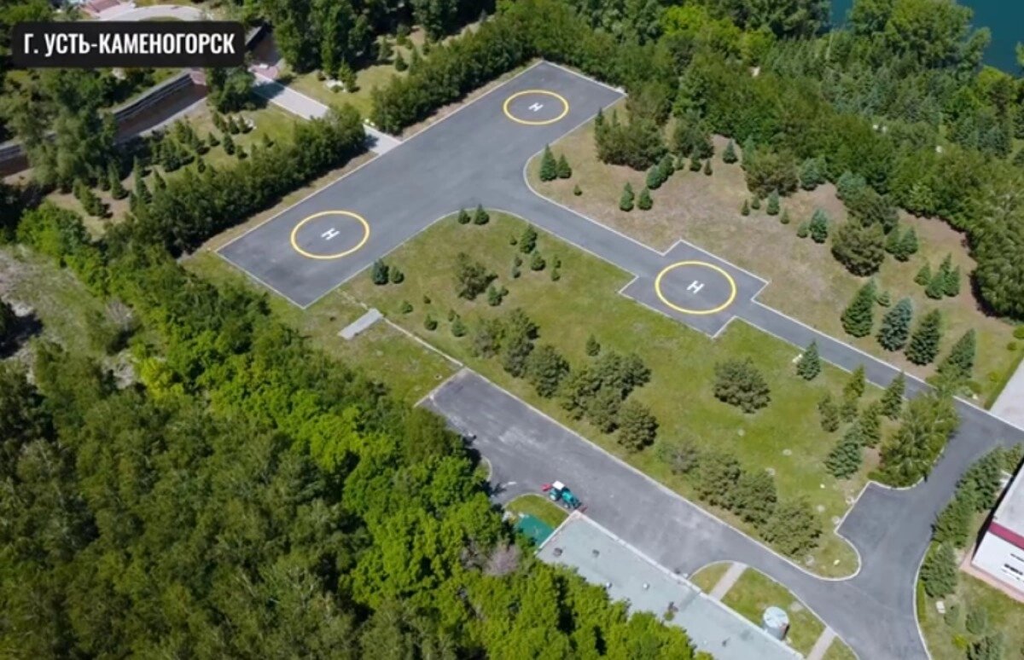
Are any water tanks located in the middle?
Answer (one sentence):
No, in the middle there is no water tank.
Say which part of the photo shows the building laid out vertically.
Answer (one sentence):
The building laid out vertically is located in the bottom right region of the scene.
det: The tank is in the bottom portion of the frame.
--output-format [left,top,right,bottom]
[765,603,795,639]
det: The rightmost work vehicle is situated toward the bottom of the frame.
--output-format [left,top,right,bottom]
[542,482,583,516]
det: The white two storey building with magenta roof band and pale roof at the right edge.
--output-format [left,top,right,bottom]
[971,472,1024,594]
